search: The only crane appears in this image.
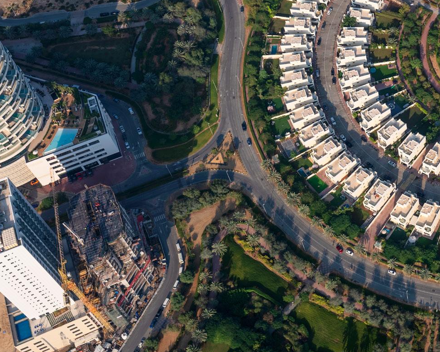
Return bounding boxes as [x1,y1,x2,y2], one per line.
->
[50,182,116,336]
